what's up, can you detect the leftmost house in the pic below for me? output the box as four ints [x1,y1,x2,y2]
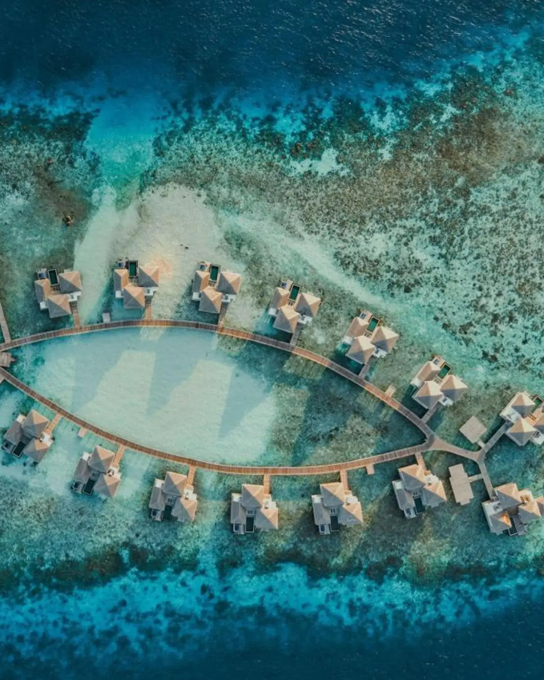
[5,406,56,463]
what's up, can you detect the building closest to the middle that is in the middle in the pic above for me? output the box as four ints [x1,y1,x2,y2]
[265,281,320,333]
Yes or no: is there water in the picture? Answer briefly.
Yes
